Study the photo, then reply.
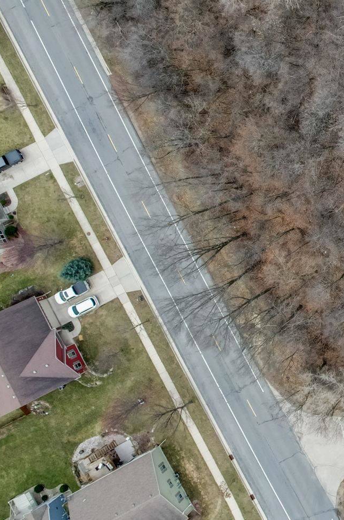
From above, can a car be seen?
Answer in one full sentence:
Yes, I can see a car in this picture.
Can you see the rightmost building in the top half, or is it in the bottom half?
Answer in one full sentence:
The bottom half of the photo is where the rightmost building is.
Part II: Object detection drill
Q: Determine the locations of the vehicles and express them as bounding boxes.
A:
[66,292,103,320]
[0,146,28,174]
[52,278,95,306]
